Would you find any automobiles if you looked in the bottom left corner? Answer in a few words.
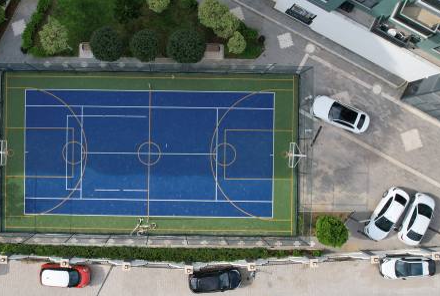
Yes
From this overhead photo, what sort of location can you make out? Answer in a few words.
sports ground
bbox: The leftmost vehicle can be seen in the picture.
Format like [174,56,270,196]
[40,262,91,289]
